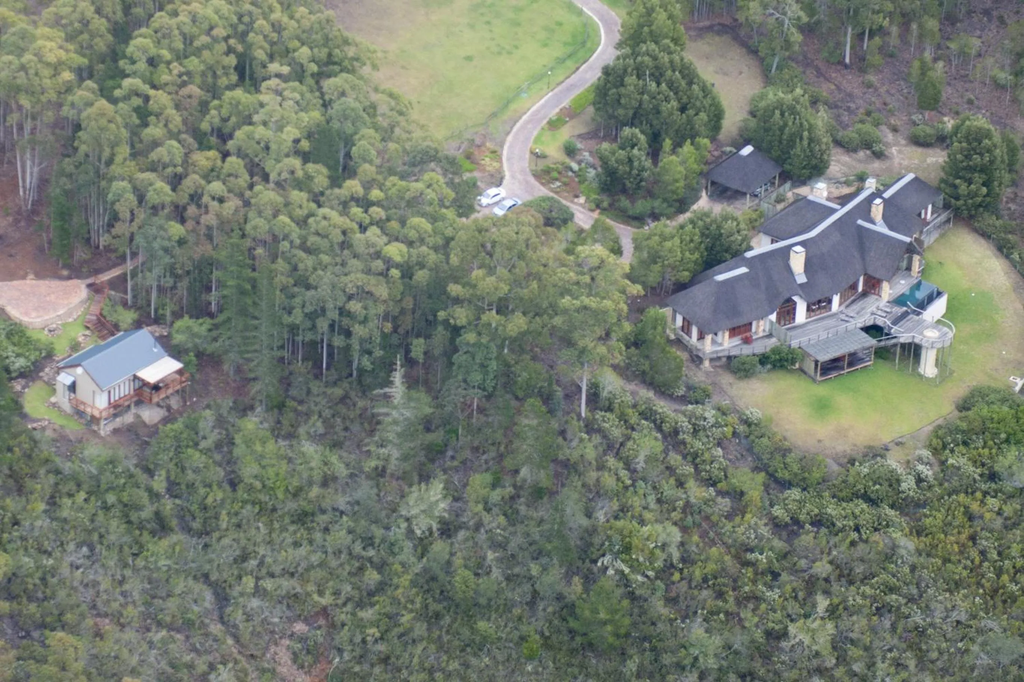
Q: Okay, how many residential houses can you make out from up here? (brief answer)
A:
2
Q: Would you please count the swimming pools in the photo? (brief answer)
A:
1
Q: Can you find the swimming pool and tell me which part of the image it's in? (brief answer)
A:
right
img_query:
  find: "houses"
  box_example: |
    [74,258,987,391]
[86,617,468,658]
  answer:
[665,172,942,368]
[57,328,184,424]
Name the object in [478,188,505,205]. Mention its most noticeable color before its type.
white car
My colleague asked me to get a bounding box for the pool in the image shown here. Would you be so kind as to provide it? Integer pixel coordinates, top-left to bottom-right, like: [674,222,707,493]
[891,278,948,326]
